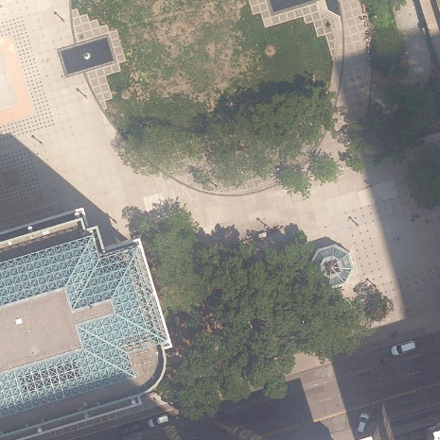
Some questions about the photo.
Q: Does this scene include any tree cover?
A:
Yes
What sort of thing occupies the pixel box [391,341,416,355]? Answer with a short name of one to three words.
vehicle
